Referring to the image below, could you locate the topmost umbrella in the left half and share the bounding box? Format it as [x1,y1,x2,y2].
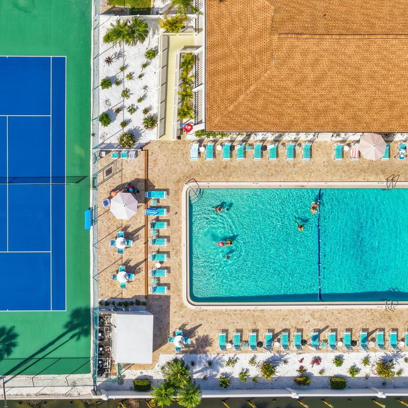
[110,192,136,219]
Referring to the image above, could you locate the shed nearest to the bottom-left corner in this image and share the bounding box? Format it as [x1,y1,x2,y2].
[102,309,153,363]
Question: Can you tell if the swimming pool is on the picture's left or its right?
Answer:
right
